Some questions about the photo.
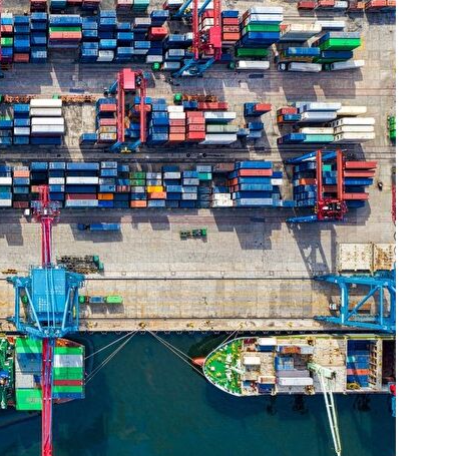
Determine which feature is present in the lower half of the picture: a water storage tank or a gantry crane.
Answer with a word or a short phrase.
gantry crane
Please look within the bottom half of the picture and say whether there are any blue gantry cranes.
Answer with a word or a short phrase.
Yes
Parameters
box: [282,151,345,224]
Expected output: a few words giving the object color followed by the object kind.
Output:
red container crane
